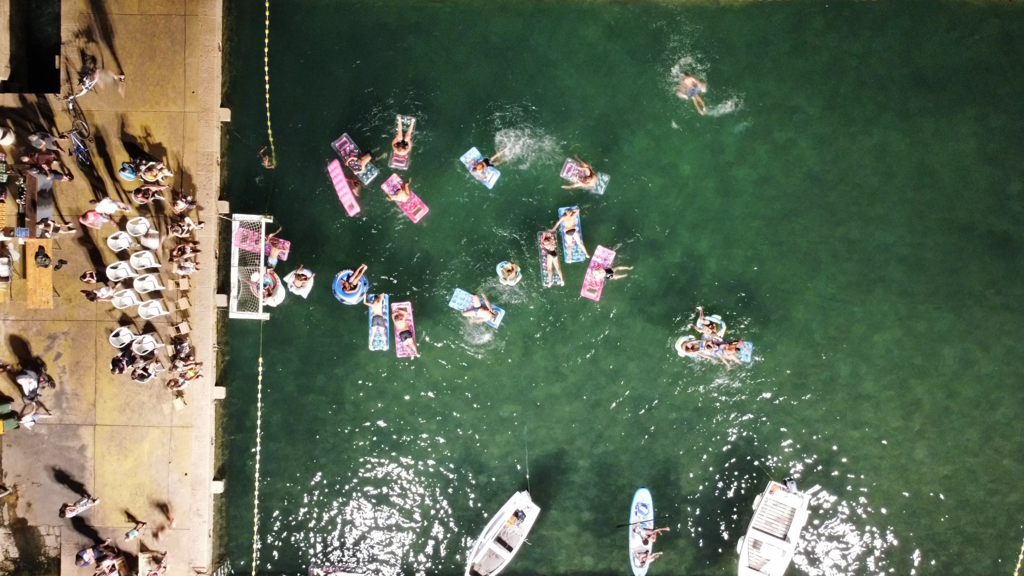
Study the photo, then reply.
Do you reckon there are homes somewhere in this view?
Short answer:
No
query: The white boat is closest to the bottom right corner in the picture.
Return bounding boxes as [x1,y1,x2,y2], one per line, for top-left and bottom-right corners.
[737,483,814,576]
